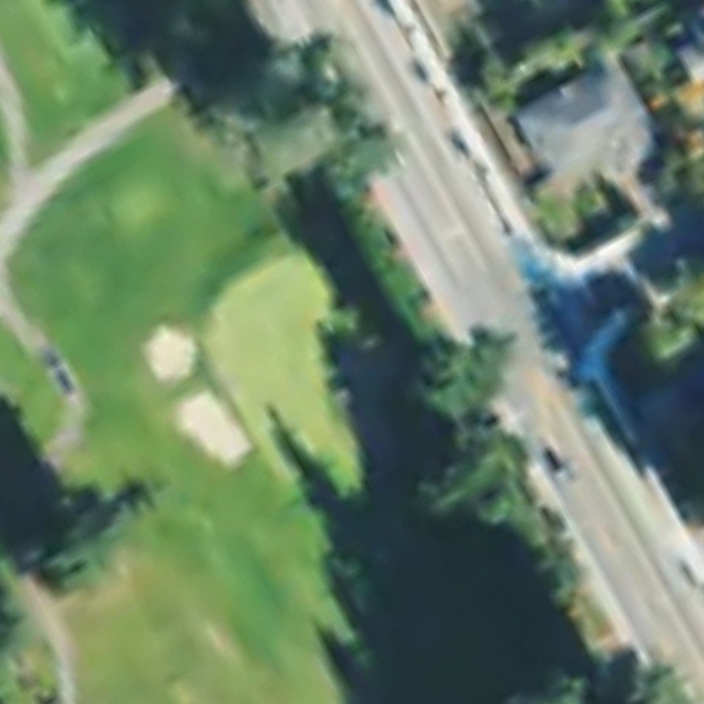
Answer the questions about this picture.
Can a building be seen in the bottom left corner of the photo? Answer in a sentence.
No, no building is visible in the bottom left corner of the photo.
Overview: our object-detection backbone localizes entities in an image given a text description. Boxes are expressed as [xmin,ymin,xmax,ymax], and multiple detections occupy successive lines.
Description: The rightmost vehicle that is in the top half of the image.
[452,130,471,154]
